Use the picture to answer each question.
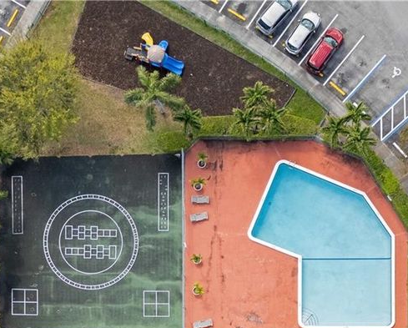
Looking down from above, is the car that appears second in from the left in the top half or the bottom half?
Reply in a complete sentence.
The car that appears second in from the left sits in the top half of the picture.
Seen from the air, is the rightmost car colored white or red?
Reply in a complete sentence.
In this view, the rightmost car is red.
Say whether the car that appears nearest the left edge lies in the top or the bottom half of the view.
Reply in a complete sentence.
Seen from above, the car that appears nearest the left edge lies in the top half of the view.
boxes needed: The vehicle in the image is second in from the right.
[284,10,322,57]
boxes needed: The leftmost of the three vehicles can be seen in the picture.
[254,0,300,41]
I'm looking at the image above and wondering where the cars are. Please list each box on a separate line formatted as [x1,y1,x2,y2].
[254,0,300,41]
[284,10,322,57]
[305,25,347,77]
